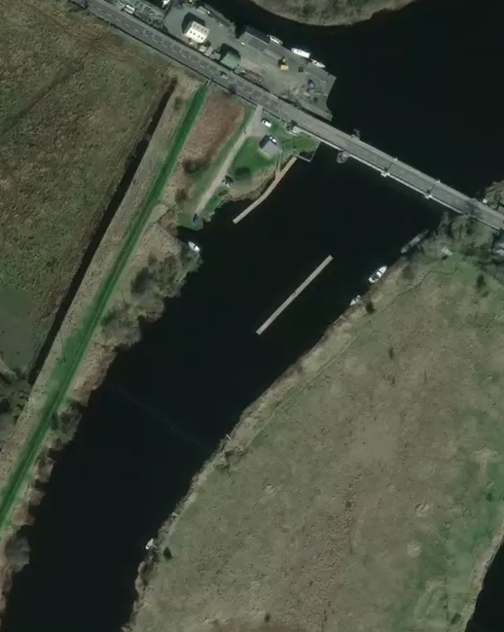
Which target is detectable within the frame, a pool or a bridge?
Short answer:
bridge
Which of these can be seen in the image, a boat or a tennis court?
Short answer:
boat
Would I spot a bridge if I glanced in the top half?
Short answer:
Yes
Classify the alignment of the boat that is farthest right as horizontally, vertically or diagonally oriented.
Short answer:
diagonally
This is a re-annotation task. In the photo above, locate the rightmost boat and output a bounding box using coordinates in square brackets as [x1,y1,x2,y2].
[403,230,428,252]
